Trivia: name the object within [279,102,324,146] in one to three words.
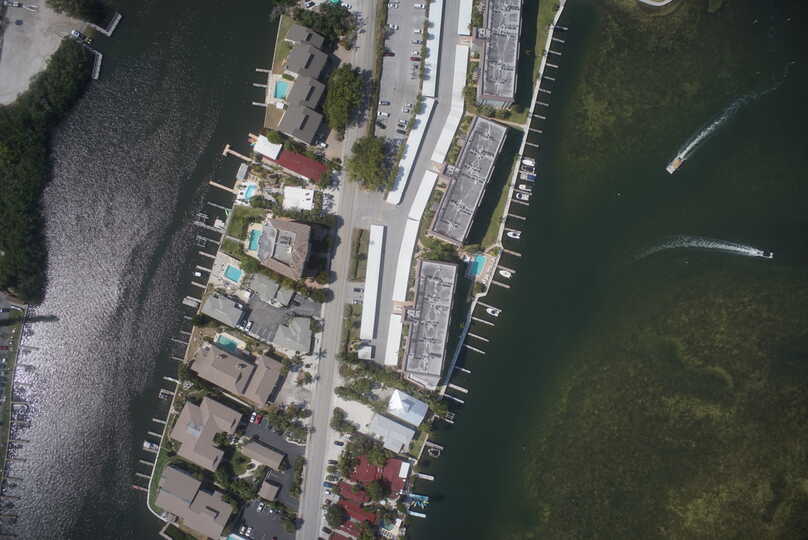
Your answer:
house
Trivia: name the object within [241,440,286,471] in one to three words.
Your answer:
building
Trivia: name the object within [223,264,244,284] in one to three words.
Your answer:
swimming pool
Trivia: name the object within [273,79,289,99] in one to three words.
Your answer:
swimming pool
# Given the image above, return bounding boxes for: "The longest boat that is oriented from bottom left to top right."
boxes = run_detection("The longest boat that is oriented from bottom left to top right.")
[667,156,683,173]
